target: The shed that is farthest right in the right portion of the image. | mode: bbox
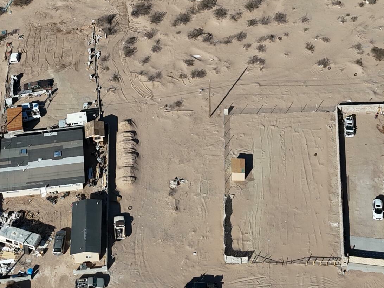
[231,157,245,182]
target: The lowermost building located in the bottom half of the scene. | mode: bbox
[70,196,102,263]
